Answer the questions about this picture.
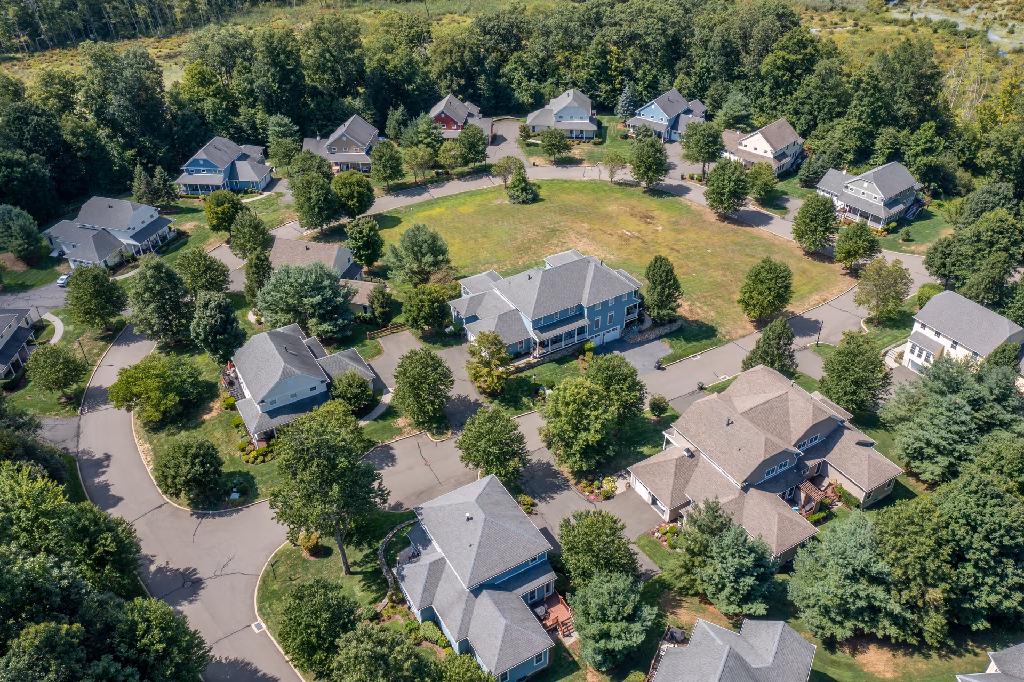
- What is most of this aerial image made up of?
trees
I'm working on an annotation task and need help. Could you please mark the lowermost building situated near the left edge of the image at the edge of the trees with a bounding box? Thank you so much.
[0,306,40,386]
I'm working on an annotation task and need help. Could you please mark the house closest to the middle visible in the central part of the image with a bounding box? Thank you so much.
[451,249,647,365]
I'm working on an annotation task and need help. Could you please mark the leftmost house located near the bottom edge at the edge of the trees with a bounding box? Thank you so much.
[392,474,576,682]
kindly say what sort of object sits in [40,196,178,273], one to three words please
house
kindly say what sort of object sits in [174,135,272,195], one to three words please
house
